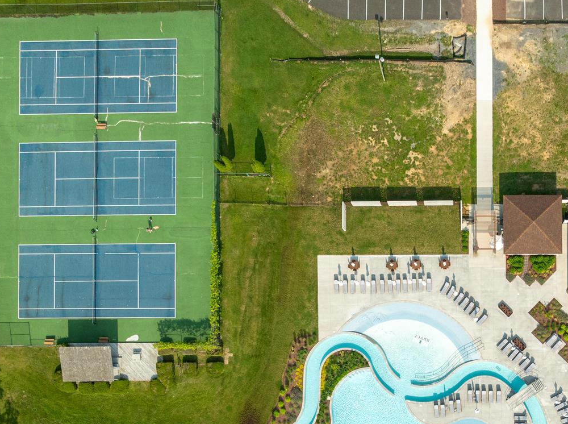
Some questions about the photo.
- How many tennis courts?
three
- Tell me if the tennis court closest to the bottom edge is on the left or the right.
left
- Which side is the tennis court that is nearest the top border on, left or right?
left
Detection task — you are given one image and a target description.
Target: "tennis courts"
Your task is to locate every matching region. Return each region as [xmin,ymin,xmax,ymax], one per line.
[18,132,176,221]
[18,235,176,324]
[19,28,177,117]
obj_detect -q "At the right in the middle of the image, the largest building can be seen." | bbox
[501,194,562,255]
